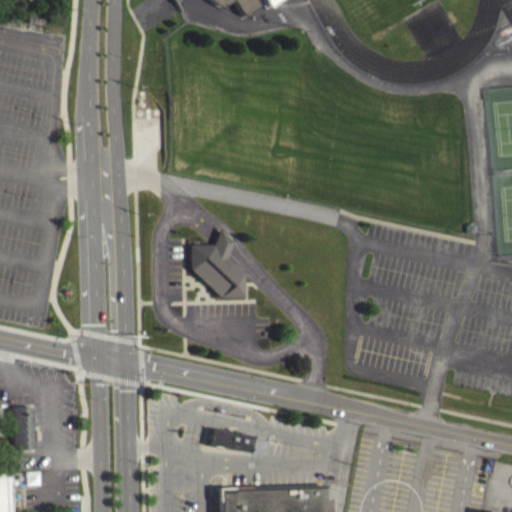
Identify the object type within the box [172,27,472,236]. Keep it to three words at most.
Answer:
sports field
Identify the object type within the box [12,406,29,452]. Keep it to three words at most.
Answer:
building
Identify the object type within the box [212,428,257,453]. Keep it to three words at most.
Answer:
building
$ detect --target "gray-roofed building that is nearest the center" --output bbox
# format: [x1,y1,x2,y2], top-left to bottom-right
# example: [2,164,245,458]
[192,230,246,299]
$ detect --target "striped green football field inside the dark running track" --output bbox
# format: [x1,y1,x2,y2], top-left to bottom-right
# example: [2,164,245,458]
[336,0,477,61]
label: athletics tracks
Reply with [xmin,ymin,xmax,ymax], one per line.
[308,0,501,85]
